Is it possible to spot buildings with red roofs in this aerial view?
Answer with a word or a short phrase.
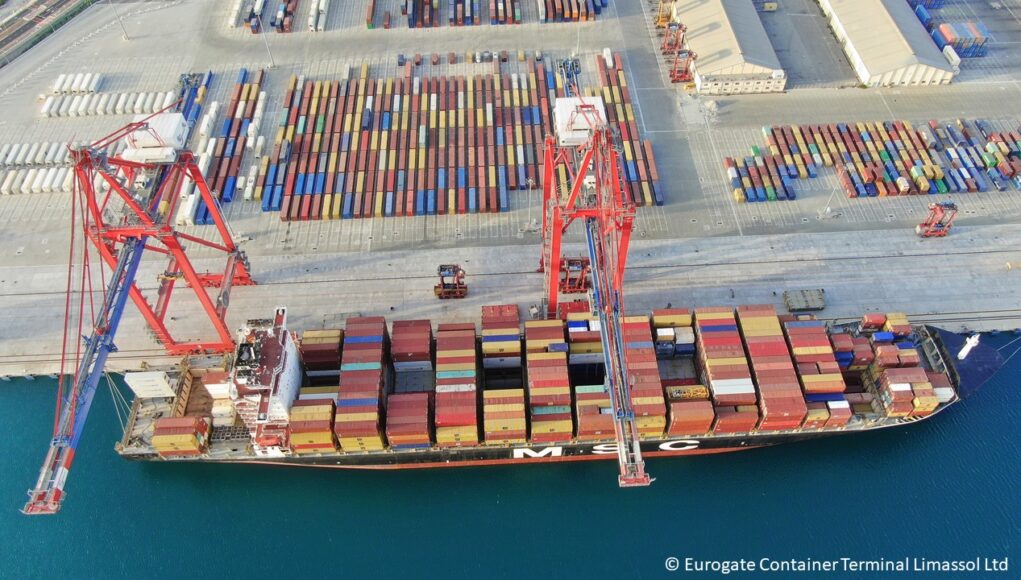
No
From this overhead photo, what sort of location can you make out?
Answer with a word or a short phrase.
port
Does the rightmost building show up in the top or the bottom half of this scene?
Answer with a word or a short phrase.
top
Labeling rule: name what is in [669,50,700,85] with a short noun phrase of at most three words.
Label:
work vehicle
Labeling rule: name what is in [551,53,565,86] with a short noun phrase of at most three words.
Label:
vehicle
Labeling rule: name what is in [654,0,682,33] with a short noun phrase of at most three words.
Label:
work vehicle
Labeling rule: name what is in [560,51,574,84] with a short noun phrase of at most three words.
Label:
vehicle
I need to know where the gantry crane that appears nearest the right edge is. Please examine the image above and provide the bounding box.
[533,95,651,480]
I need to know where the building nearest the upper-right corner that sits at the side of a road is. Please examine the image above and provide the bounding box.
[822,0,955,87]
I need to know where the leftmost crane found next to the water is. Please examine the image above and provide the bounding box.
[28,109,262,509]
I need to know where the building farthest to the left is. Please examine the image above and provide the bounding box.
[674,0,788,96]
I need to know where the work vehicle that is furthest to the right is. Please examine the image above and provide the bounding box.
[918,201,964,236]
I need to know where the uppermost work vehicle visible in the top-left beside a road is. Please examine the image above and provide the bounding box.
[178,70,199,98]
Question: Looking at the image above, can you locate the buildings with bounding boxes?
[822,0,955,87]
[674,0,788,96]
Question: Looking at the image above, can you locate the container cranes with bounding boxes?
[533,95,651,480]
[28,109,262,509]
